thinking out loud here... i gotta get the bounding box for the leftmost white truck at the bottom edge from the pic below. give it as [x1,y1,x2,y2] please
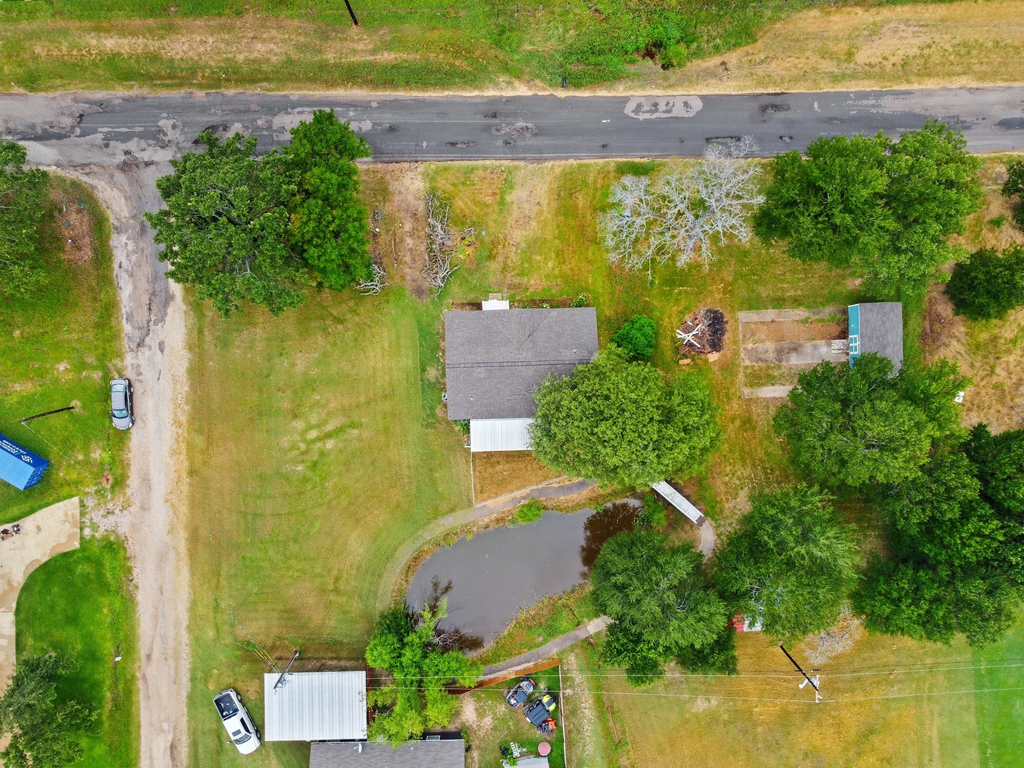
[212,691,261,757]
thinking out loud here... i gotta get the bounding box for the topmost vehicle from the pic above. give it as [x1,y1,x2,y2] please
[108,377,136,430]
